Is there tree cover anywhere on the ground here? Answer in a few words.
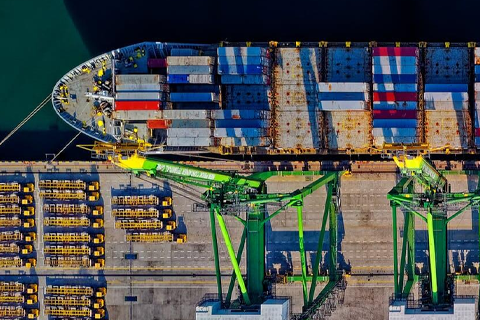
No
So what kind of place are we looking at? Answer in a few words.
port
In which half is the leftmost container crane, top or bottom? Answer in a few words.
bottom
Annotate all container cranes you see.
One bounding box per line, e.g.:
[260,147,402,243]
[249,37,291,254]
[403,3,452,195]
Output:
[367,145,480,320]
[89,145,346,320]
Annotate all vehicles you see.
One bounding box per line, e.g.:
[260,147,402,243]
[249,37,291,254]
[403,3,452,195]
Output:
[44,217,108,228]
[0,205,38,216]
[43,296,107,308]
[44,256,108,267]
[0,306,43,317]
[43,204,107,214]
[116,219,180,231]
[0,281,41,293]
[0,257,38,267]
[44,306,108,318]
[0,182,38,192]
[0,195,36,205]
[38,190,102,201]
[0,292,41,303]
[0,216,38,228]
[0,231,39,243]
[43,245,107,256]
[44,232,108,243]
[112,207,176,219]
[126,232,190,243]
[46,285,110,296]
[39,180,103,190]
[112,195,175,207]
[0,243,37,254]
